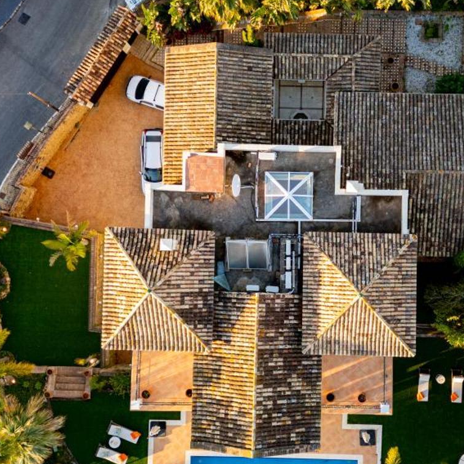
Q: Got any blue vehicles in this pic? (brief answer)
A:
No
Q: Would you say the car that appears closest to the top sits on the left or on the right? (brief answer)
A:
left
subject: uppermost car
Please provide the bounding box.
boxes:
[122,72,165,111]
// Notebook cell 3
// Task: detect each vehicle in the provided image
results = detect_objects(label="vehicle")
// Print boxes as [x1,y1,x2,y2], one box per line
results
[122,72,165,111]
[134,126,164,196]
